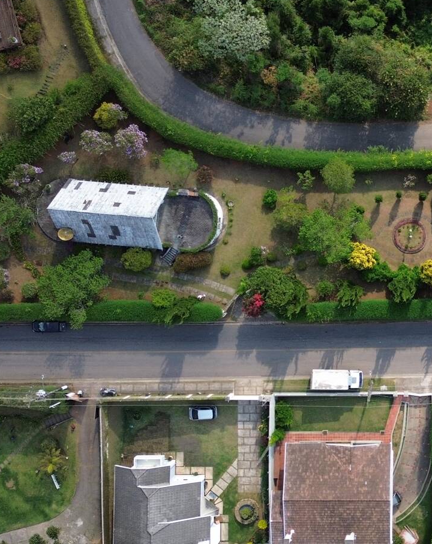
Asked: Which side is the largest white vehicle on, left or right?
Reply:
right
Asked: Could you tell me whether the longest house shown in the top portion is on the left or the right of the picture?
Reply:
left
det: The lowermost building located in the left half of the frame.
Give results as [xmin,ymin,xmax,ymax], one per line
[110,448,228,544]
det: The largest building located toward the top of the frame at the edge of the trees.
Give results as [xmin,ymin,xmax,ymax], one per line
[46,175,169,250]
